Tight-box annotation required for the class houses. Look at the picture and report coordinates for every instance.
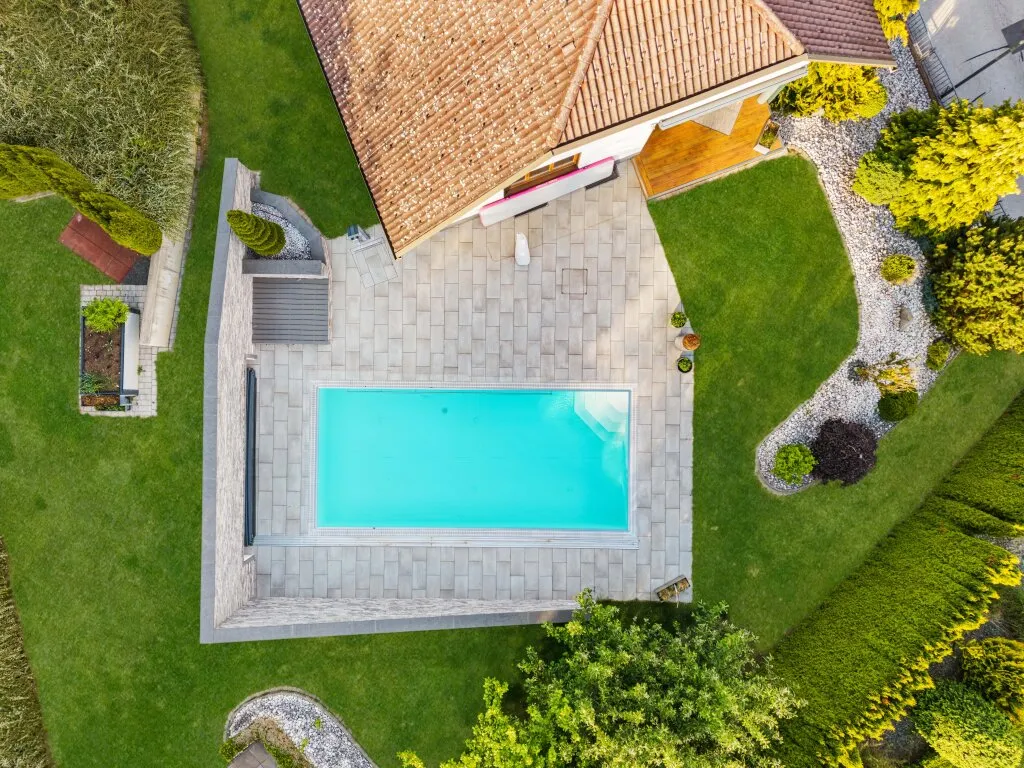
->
[296,0,897,260]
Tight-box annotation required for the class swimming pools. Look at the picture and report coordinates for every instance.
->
[307,380,638,536]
